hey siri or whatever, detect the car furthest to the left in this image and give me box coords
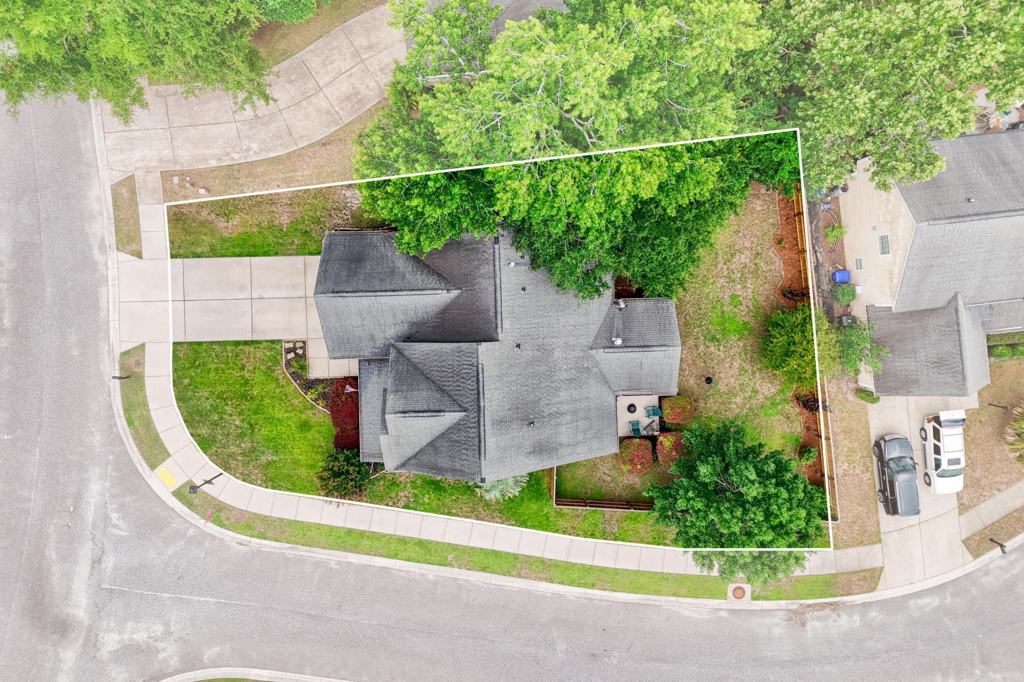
[874,432,925,519]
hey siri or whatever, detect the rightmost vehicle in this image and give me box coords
[918,411,963,494]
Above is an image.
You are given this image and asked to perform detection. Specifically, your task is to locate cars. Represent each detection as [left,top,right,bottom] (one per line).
[918,411,963,494]
[874,432,925,519]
